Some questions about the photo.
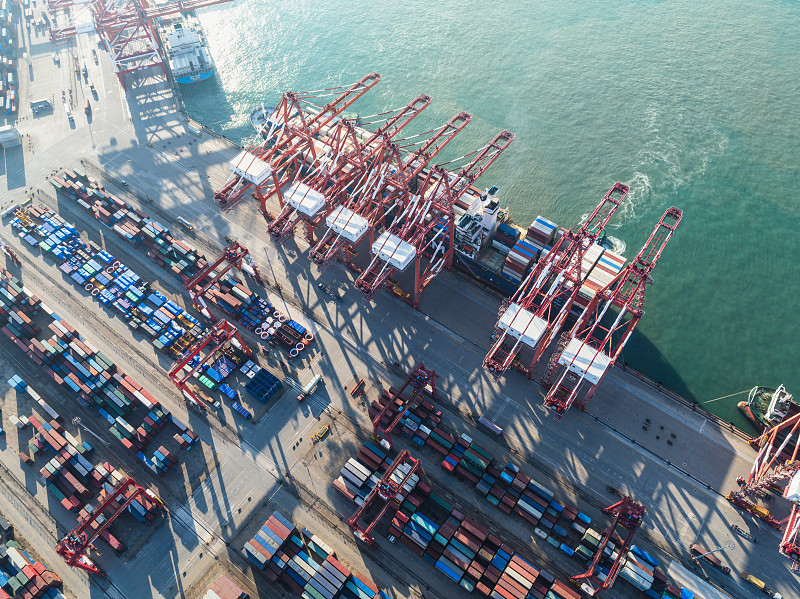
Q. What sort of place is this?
port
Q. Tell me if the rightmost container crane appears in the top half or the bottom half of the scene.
bottom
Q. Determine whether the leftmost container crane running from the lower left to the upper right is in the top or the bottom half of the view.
bottom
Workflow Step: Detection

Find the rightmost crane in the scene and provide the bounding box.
[717,412,800,569]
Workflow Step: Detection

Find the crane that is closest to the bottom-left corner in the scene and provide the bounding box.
[56,477,170,579]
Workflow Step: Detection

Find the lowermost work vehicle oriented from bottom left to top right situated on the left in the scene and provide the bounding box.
[312,425,328,444]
